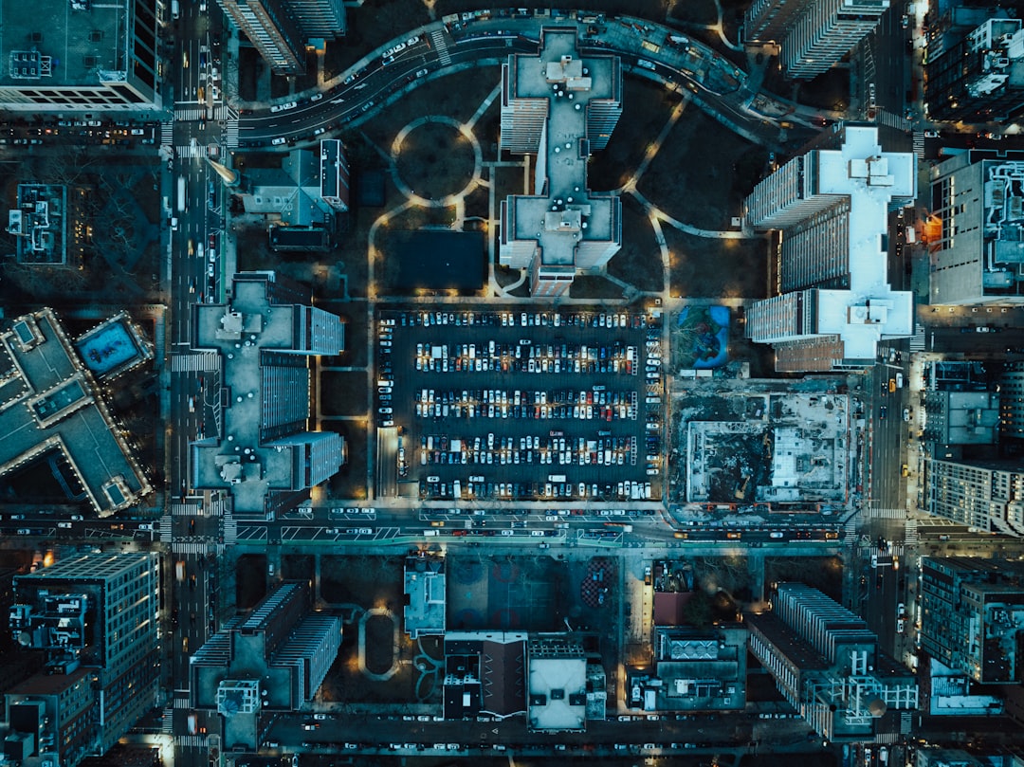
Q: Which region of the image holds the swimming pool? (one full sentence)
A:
The swimming pool appears toward the left of the photo.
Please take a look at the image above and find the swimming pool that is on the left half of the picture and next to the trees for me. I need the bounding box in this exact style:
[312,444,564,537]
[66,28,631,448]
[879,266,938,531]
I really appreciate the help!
[81,322,137,375]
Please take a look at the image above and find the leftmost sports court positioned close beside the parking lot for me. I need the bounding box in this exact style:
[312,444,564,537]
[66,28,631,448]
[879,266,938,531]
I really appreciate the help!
[388,231,484,289]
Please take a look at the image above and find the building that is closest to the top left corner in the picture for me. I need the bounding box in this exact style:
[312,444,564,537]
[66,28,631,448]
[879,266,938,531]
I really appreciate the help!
[0,0,161,109]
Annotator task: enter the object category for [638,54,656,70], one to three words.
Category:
vehicle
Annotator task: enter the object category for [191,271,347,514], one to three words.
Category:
building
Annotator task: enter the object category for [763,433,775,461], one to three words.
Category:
vehicle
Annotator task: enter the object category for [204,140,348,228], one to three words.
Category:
building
